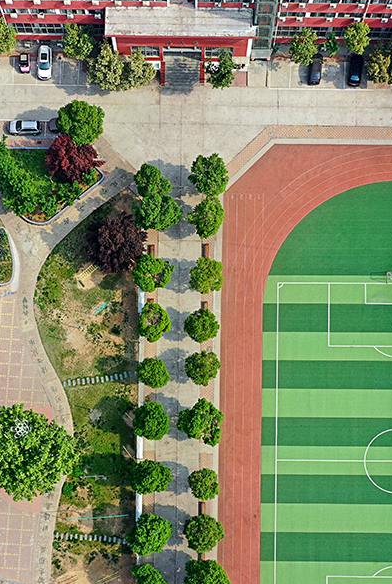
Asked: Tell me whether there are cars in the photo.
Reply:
Yes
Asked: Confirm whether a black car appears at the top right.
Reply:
Yes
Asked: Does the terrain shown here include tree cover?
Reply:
Yes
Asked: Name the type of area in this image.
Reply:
sports ground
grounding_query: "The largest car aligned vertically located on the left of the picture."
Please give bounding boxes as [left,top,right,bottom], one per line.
[36,46,52,82]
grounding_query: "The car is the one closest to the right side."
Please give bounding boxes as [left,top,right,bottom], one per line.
[347,54,364,89]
